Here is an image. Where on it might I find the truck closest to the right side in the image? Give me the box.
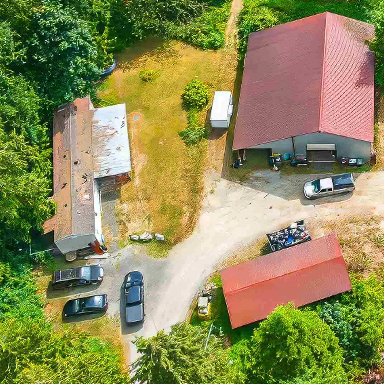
[304,171,357,201]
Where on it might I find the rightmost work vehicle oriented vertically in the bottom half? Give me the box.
[193,283,216,322]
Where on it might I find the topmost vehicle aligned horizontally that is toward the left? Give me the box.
[48,264,108,293]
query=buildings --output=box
[27,91,121,252]
[233,14,375,168]
[221,235,353,336]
